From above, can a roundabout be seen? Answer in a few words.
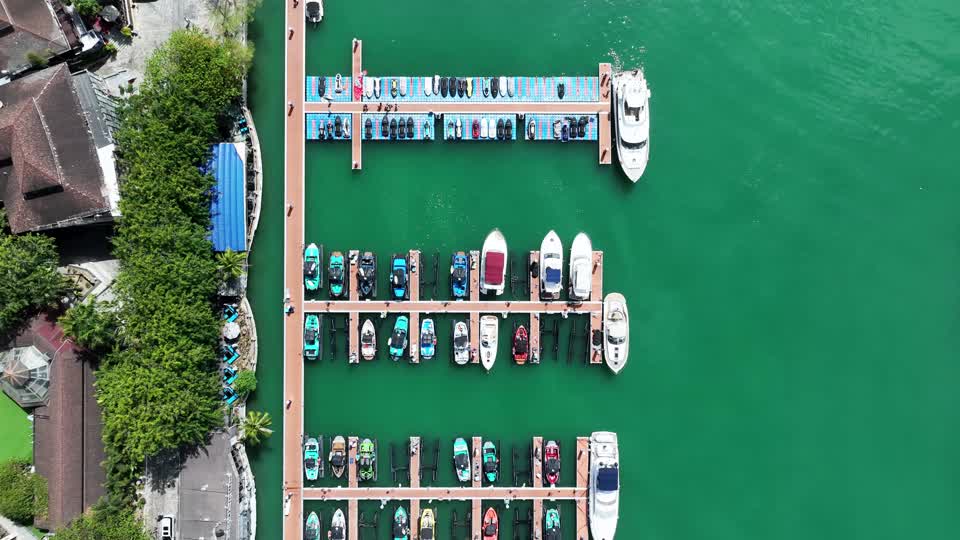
No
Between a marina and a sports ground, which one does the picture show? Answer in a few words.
marina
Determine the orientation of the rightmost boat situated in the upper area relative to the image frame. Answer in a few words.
up and down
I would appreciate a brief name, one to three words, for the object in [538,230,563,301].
boat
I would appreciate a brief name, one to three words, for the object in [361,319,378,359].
boat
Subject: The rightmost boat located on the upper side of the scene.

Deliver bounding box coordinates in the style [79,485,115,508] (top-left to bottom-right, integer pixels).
[609,66,652,183]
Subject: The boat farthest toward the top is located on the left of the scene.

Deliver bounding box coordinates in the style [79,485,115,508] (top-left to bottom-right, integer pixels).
[305,0,325,30]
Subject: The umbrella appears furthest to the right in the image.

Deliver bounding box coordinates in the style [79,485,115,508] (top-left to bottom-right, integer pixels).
[224,322,241,338]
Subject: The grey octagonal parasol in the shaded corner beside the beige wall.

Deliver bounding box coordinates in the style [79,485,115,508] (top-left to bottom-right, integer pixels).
[103,6,123,24]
